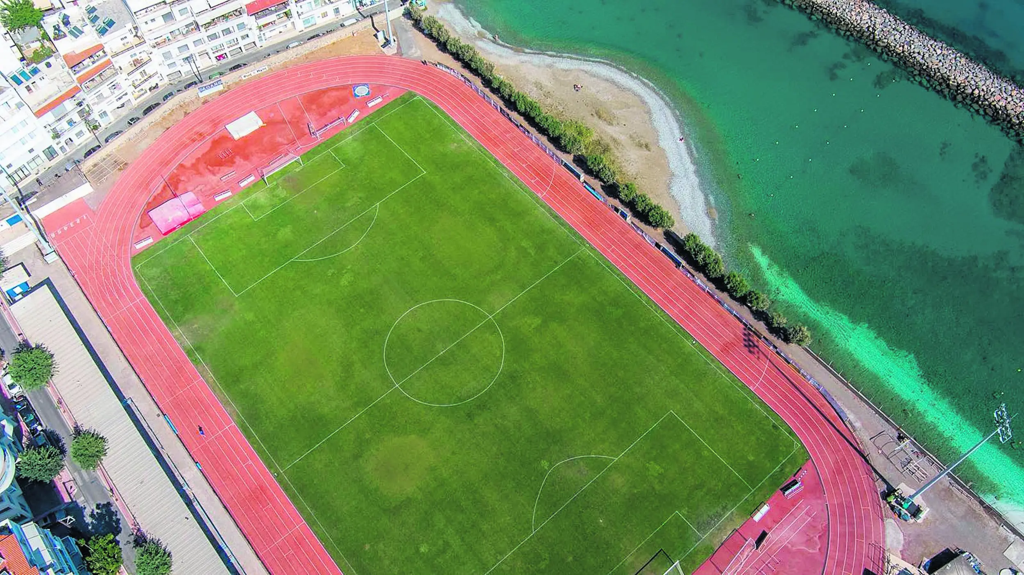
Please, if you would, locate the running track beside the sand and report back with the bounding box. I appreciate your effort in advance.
[38,54,884,575]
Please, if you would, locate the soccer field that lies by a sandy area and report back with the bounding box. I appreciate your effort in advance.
[130,89,812,575]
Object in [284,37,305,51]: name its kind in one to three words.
car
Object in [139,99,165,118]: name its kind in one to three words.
car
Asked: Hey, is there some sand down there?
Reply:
Yes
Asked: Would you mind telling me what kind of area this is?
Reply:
sports ground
